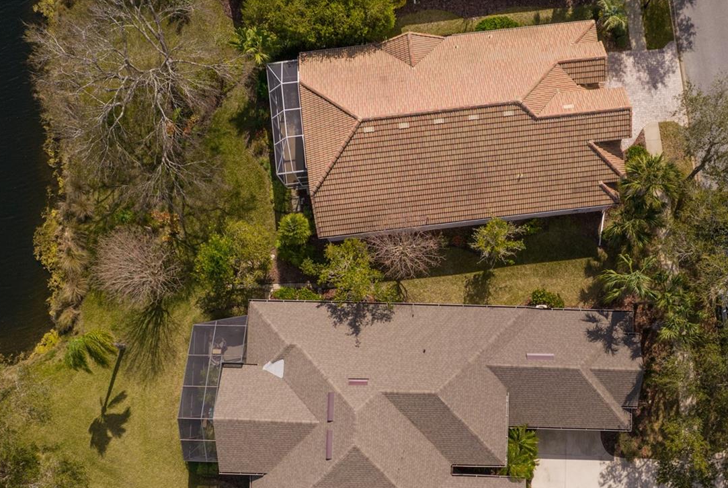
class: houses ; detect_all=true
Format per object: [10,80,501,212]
[297,18,632,246]
[213,298,644,488]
